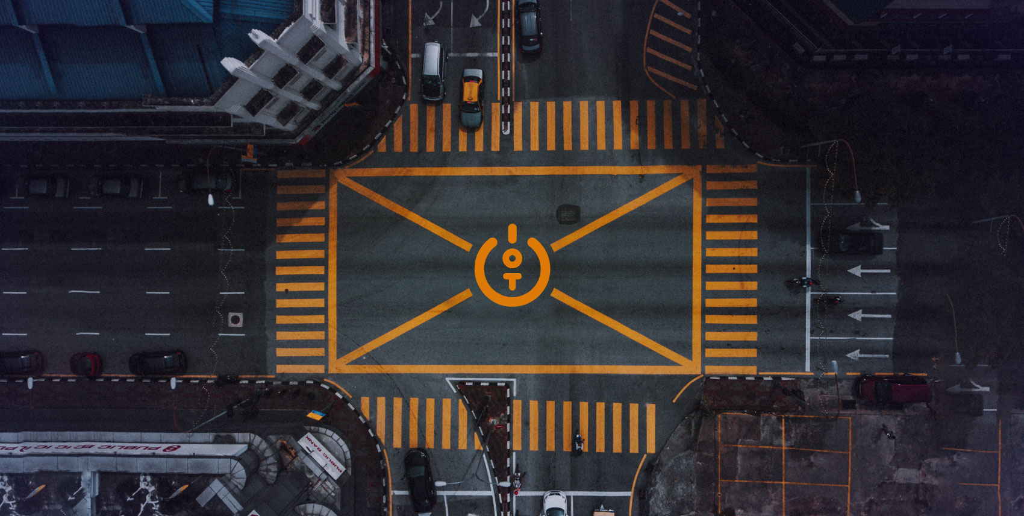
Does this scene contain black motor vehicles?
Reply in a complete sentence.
Yes, I can see a black motor vehicle in this picture.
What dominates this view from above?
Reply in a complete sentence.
What you mostly see from above here is paved ground.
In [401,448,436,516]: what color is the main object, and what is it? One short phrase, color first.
black car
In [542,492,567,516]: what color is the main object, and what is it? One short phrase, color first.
white car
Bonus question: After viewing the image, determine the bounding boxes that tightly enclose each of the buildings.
[0,424,357,516]
[0,0,383,145]
[764,0,1024,50]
